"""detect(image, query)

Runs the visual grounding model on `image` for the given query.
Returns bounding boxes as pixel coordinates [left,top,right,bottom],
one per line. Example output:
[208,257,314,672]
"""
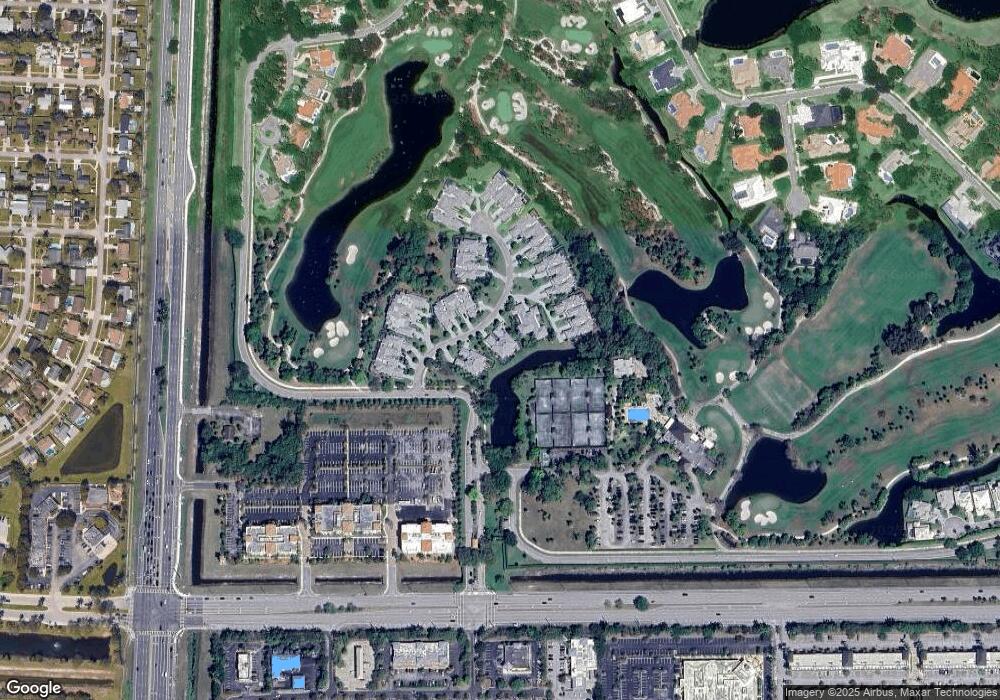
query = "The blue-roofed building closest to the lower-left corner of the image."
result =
[271,655,300,679]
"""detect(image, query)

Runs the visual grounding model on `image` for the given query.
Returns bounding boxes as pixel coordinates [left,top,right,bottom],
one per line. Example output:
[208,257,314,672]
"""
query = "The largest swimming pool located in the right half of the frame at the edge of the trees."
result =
[628,408,649,422]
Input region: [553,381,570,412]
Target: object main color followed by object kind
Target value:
gray tennis court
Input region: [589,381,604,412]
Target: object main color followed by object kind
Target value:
gray tennis court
